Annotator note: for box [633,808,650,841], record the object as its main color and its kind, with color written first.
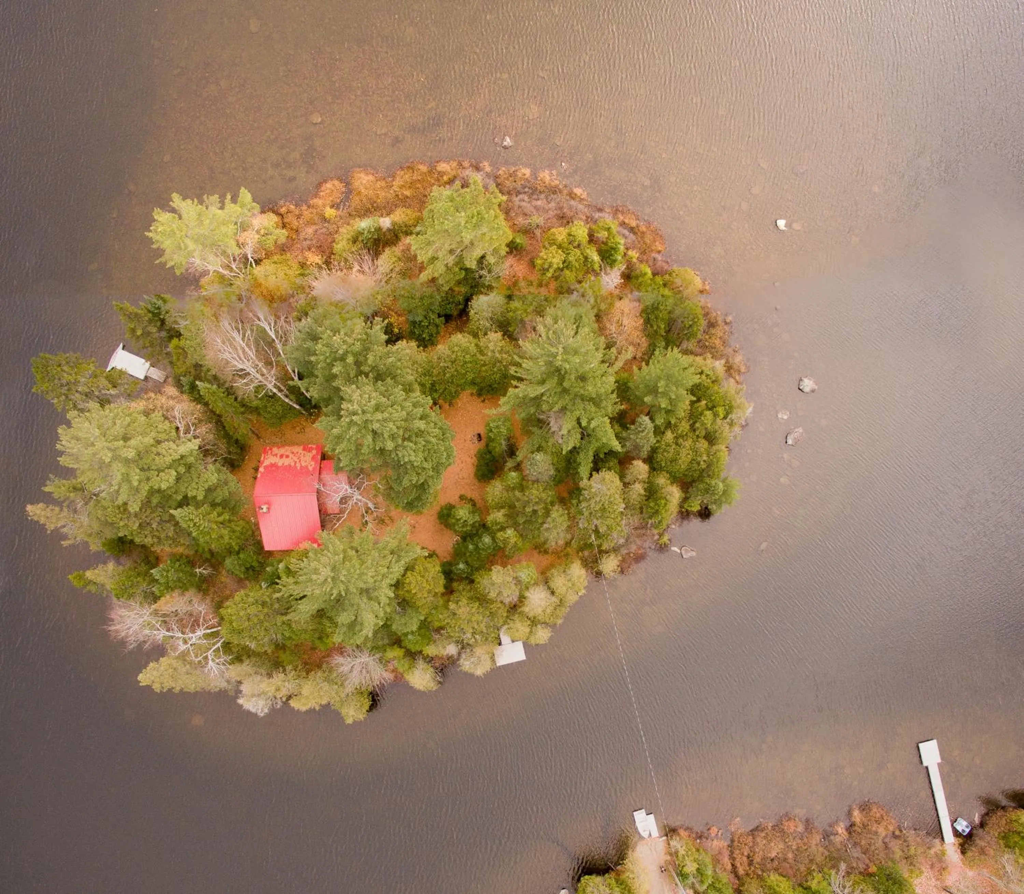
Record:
white boat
